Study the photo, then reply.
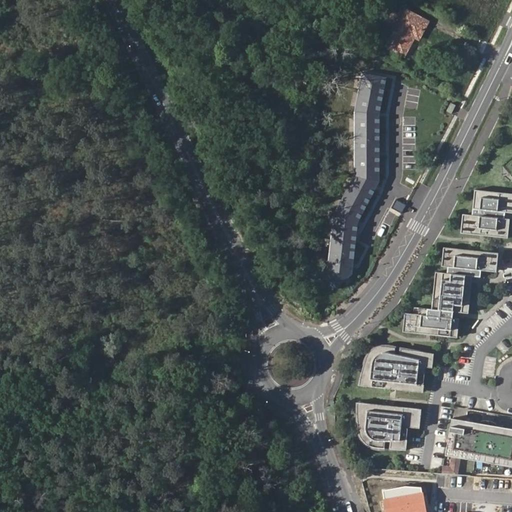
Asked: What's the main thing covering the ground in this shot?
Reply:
trees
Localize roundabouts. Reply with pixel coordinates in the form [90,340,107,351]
[250,323,332,405]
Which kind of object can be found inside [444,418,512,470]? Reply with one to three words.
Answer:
building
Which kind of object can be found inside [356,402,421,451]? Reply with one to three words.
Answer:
building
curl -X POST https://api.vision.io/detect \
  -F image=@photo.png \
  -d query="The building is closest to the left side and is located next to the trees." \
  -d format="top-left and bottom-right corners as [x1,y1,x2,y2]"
[328,77,388,275]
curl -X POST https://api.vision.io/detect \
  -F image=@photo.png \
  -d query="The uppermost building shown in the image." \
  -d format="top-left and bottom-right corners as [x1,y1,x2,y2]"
[390,10,428,54]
